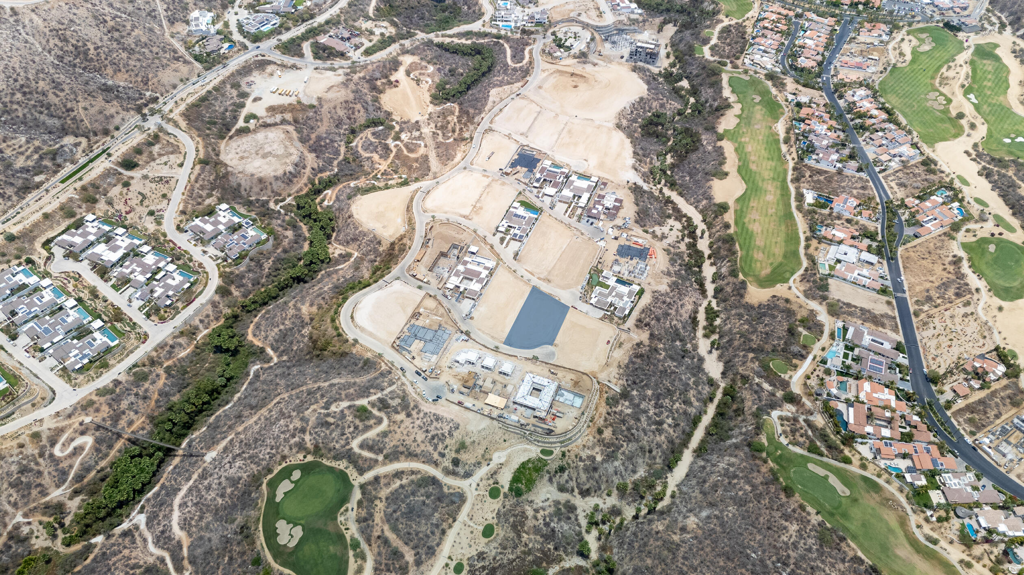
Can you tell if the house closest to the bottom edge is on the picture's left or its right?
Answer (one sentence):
The house closest to the bottom edge sits on the right side.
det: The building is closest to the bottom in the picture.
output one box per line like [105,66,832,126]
[948,505,1024,541]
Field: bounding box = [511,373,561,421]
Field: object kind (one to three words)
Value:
building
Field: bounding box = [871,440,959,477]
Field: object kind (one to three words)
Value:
house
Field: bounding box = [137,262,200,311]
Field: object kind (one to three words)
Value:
house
